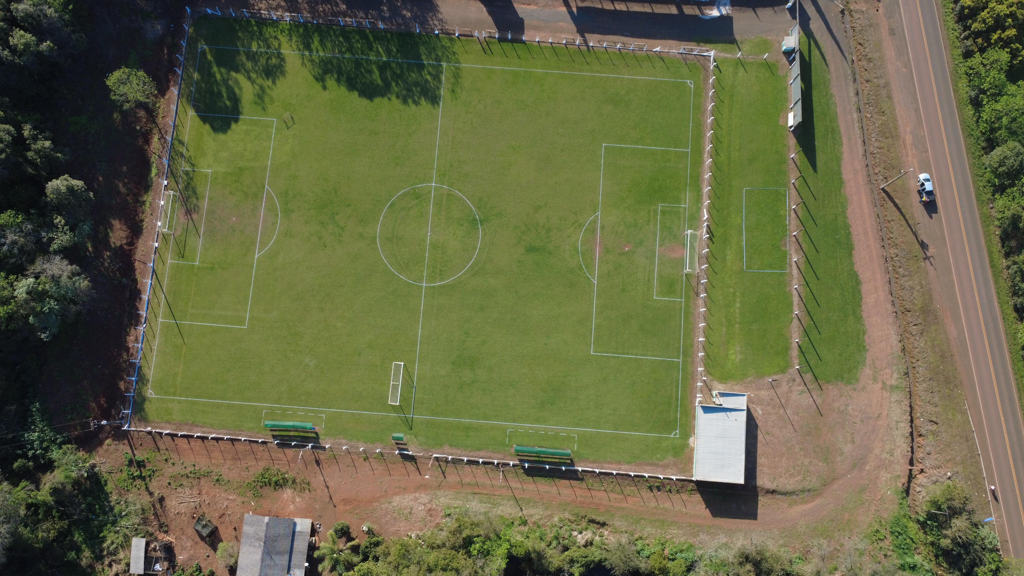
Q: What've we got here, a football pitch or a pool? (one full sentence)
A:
Visible in the photo is a football pitch.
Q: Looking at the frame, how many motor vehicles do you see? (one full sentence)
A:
I count just 1 motor vehicle.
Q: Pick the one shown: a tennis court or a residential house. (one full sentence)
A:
Visible in the photo is a residential house.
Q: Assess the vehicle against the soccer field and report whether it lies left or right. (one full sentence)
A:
The soccer field has the vehicle on its right side.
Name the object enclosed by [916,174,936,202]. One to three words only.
vehicle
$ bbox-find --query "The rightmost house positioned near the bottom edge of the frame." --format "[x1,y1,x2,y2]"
[237,514,312,576]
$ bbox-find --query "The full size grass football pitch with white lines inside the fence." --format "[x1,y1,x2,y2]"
[129,12,712,478]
